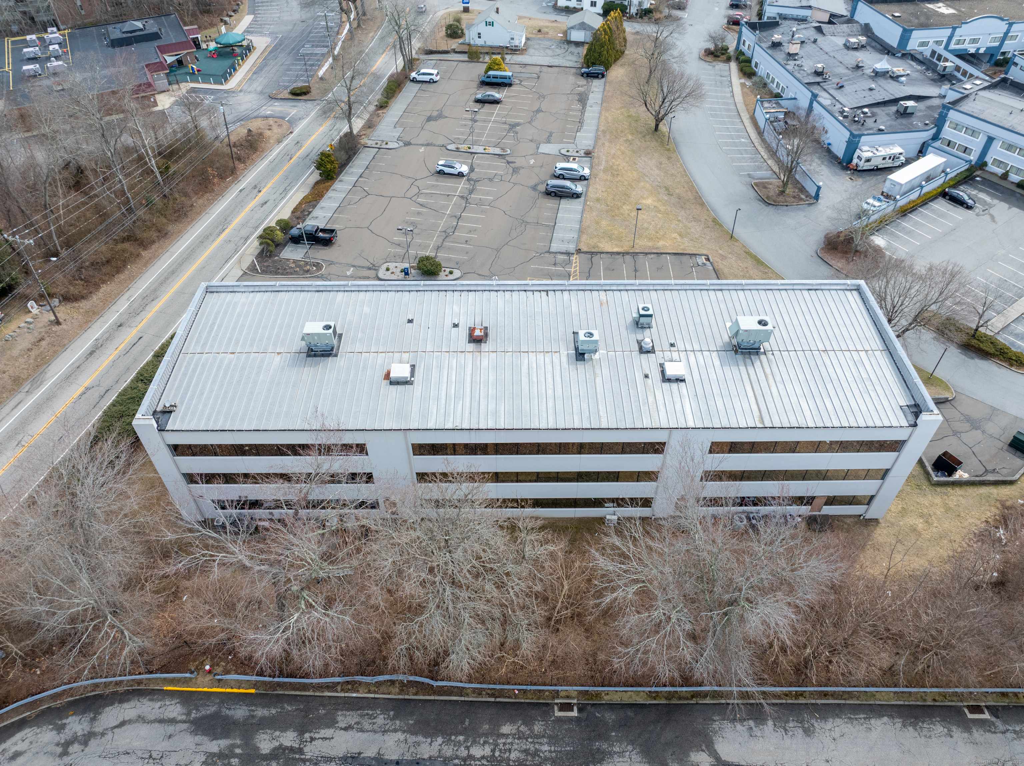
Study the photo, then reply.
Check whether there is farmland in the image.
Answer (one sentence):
No, the scene doesn't show any farmland.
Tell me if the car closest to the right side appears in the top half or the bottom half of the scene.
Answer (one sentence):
The top half of the photo is where the car closest to the right side is.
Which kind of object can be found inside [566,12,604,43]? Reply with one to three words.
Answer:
building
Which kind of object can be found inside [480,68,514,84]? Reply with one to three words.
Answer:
vehicle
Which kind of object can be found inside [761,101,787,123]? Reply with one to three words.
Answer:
shed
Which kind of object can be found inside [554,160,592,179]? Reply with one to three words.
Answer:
car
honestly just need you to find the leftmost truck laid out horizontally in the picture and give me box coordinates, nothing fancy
[288,222,340,243]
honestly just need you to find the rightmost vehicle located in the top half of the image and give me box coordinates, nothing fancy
[942,186,982,207]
